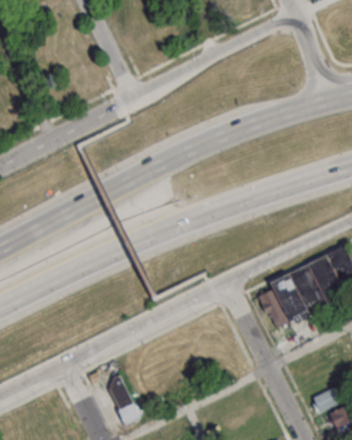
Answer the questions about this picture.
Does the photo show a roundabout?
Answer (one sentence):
No, there isn't any roundabout down there.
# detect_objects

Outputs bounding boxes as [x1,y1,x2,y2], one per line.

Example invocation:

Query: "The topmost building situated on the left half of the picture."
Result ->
[110,376,132,408]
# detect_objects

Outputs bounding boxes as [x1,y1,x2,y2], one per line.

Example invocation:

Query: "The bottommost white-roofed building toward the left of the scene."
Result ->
[119,403,142,426]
